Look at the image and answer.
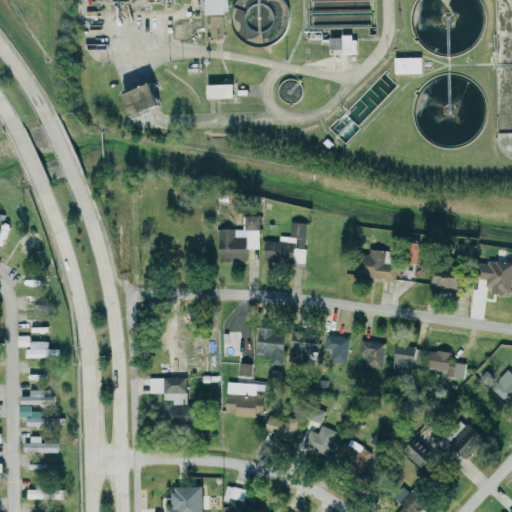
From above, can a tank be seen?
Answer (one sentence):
Yes, the picture does show a tank.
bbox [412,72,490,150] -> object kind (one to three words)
storage tank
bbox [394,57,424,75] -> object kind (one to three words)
building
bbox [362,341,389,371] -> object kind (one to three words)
house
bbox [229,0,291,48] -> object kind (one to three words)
storage tank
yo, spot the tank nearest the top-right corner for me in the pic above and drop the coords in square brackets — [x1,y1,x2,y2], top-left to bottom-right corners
[410,0,488,58]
